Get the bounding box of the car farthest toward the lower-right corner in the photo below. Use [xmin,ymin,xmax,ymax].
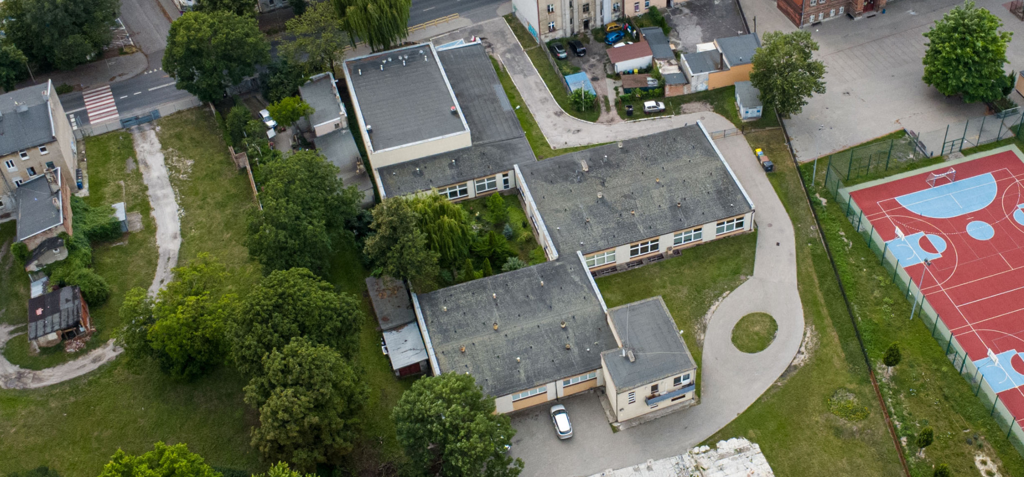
[548,403,573,440]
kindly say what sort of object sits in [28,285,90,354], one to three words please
shed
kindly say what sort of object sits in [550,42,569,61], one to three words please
car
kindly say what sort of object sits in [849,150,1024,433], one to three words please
sports court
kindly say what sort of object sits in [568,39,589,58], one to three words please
car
